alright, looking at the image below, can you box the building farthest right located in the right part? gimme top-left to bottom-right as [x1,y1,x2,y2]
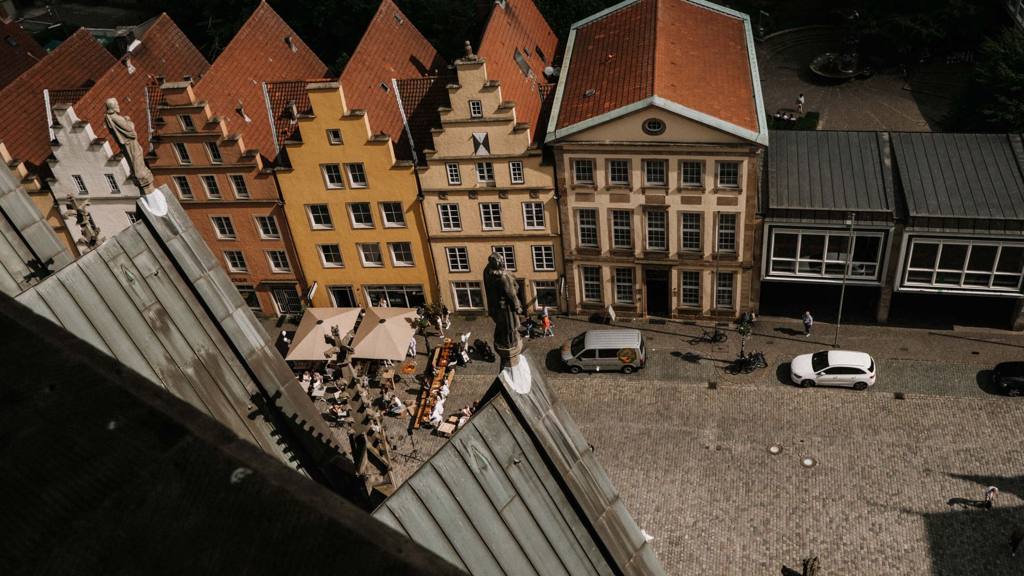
[893,133,1024,297]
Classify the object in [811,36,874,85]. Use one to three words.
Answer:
fountain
